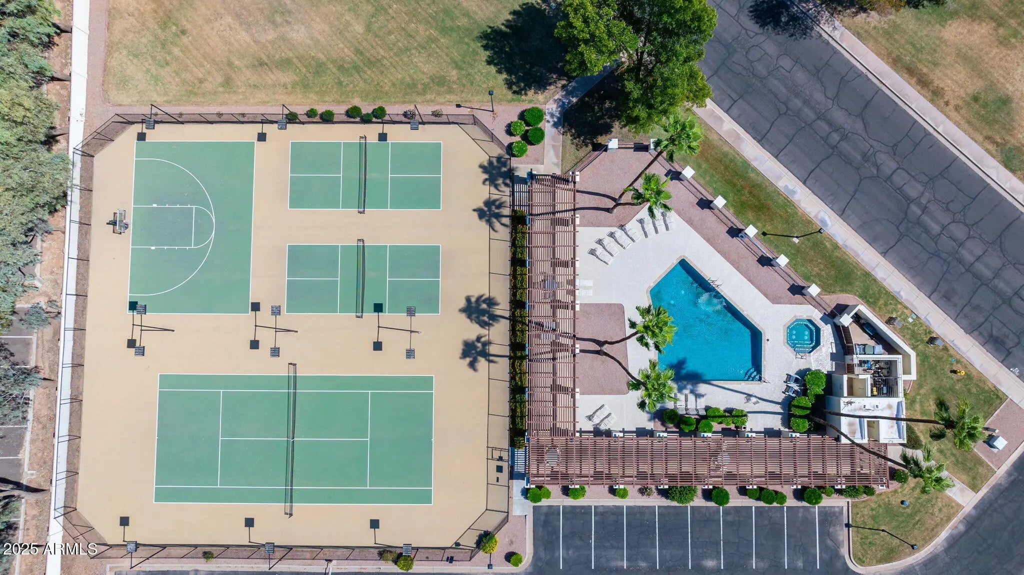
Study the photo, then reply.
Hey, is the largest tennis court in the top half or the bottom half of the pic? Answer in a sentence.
The largest tennis court is in the bottom half of the image.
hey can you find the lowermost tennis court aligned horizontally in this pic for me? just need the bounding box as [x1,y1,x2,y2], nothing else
[153,374,434,505]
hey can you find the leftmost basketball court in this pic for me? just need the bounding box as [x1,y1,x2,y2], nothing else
[128,140,255,315]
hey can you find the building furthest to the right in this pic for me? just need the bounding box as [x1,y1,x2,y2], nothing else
[826,355,906,443]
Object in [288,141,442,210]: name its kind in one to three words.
sports court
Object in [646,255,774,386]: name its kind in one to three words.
swimming pool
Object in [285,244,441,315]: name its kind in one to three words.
sports court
